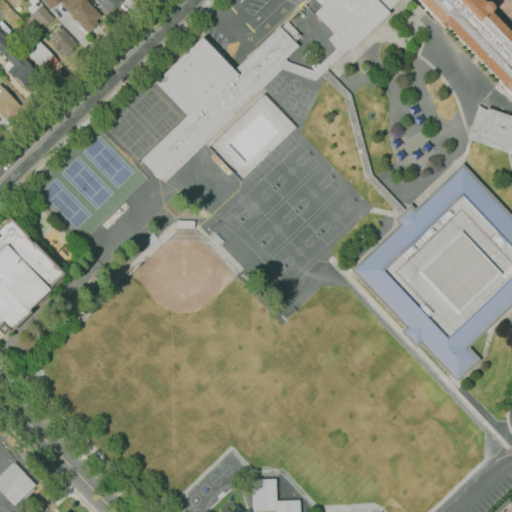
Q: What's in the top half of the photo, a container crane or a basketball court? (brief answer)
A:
basketball court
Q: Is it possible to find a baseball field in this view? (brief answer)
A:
Yes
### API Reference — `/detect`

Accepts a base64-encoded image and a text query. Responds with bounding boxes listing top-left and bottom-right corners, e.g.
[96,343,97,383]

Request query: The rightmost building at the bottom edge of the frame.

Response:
[252,479,301,512]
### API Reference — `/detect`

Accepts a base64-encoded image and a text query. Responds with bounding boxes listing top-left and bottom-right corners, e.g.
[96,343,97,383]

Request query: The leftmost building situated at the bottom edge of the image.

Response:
[0,462,36,507]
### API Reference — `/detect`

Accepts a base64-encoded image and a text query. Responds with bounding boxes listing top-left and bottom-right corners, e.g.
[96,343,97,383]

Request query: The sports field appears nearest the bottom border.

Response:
[33,272,485,512]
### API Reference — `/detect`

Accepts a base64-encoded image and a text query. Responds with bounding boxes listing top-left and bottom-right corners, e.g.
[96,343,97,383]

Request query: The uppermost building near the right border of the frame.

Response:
[422,0,512,90]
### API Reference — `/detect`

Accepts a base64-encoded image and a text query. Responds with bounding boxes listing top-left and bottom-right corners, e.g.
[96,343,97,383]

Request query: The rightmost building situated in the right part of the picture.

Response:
[472,100,512,153]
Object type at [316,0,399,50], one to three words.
building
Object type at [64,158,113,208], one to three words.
tennis court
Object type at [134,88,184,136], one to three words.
sports court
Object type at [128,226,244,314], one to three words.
baseball field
